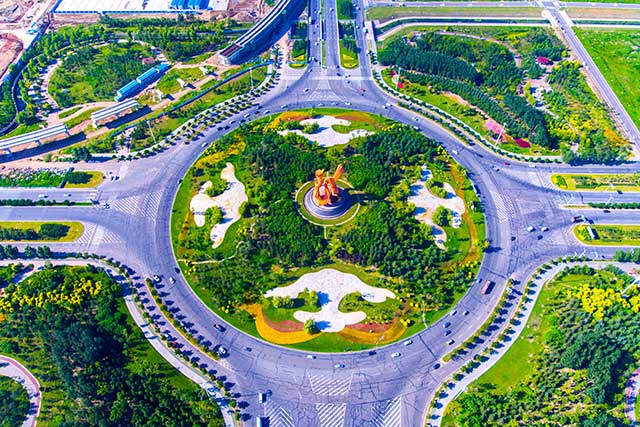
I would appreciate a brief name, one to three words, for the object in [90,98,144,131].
bridge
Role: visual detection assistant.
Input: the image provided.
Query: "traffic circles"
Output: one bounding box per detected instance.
[141,94,503,388]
